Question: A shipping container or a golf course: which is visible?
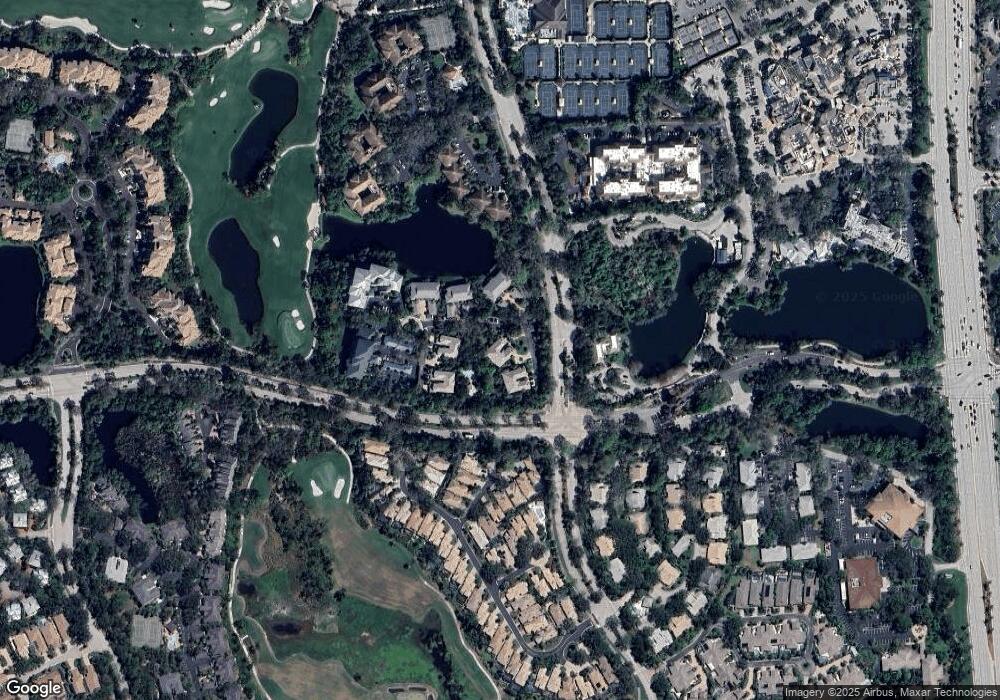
golf course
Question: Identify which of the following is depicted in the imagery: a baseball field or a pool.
pool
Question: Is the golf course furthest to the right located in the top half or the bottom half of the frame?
bottom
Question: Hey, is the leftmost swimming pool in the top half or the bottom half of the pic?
top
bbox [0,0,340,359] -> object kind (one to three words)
golf course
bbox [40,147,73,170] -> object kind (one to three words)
swimming pool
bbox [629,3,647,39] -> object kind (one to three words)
tennis court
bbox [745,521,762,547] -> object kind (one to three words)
house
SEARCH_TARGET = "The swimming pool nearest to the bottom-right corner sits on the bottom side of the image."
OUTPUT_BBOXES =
[531,501,545,527]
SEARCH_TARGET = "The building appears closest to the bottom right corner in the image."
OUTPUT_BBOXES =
[925,652,950,693]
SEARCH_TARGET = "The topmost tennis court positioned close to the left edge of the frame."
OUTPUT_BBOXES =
[5,120,33,152]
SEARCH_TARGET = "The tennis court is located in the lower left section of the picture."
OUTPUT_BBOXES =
[131,615,162,647]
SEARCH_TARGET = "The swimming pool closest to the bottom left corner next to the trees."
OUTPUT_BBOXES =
[164,630,180,651]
